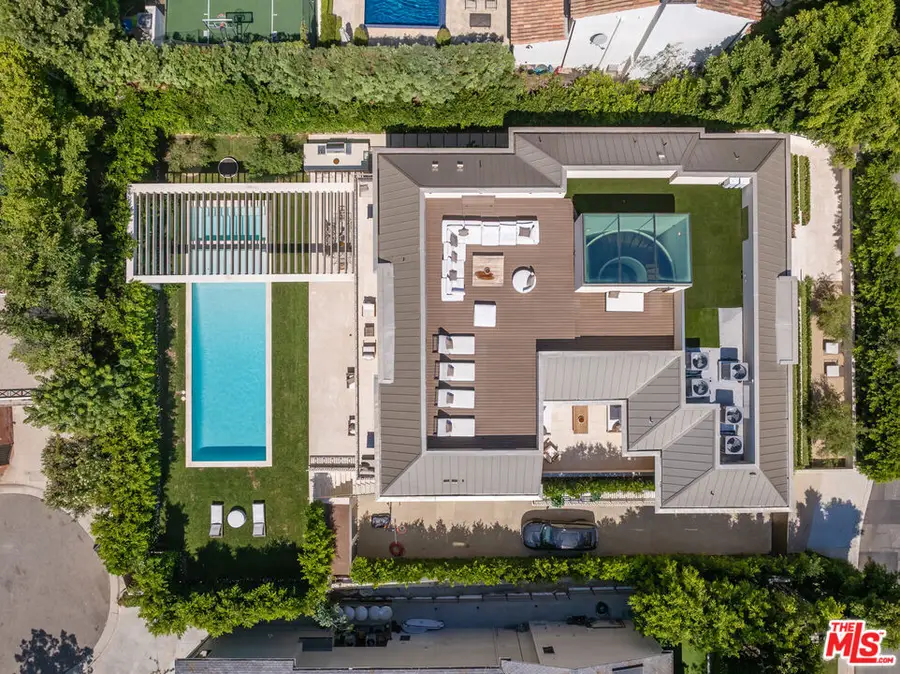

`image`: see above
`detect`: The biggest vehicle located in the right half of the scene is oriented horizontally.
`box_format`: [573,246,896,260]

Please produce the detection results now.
[521,519,597,555]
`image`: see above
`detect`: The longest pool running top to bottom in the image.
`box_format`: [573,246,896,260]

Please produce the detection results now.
[181,202,272,467]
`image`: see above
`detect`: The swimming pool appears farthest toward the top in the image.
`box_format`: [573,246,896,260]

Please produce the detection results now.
[364,0,446,28]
